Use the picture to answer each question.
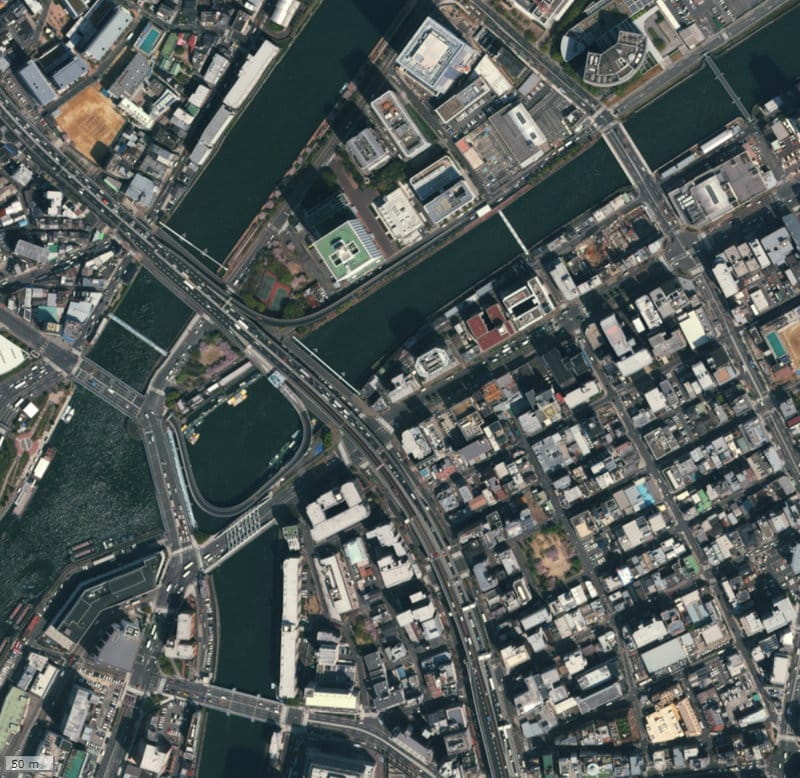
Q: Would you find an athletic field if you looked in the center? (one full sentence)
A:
No, the scene shows no athletic field in the center.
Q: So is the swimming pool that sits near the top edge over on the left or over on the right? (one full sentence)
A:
You can find the swimming pool that sits near the top edge on the left side of the picture.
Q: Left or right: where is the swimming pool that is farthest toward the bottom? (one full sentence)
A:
The swimming pool that is farthest toward the bottom is on the right side of the image.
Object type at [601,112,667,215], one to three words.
bridge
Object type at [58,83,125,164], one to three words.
sports field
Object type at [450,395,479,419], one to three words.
building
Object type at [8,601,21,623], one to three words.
ship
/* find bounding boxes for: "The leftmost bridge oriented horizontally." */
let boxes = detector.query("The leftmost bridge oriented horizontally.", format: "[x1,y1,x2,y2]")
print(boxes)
[159,676,295,726]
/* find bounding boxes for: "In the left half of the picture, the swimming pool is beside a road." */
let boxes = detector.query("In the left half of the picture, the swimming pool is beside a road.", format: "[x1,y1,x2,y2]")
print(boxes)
[134,23,167,56]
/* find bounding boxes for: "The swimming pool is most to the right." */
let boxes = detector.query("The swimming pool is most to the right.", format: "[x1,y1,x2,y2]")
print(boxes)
[765,329,788,360]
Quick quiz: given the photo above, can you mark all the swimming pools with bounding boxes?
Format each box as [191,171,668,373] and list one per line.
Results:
[765,329,788,360]
[134,23,167,56]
